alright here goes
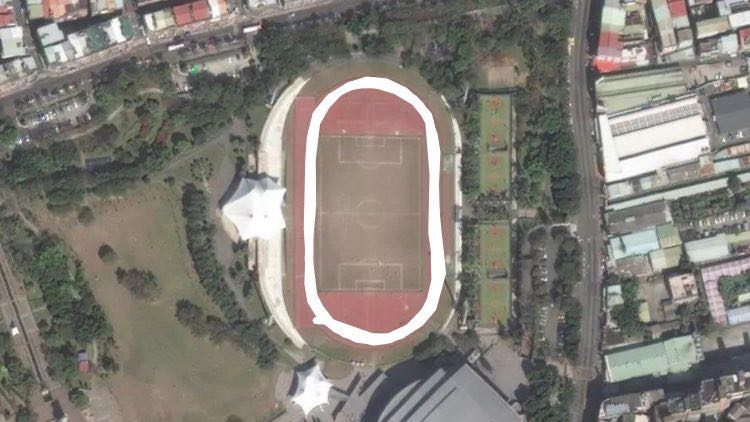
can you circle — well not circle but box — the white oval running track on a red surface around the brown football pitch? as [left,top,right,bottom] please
[283,62,456,366]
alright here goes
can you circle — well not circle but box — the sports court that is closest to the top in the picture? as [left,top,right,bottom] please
[489,66,515,87]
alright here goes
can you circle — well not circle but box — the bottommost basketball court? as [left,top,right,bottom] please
[479,276,510,328]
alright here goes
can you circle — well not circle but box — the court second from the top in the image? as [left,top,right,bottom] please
[480,95,510,146]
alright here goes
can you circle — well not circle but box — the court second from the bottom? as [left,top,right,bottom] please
[479,224,510,272]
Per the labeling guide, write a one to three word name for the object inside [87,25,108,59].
building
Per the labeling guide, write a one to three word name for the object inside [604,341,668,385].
building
